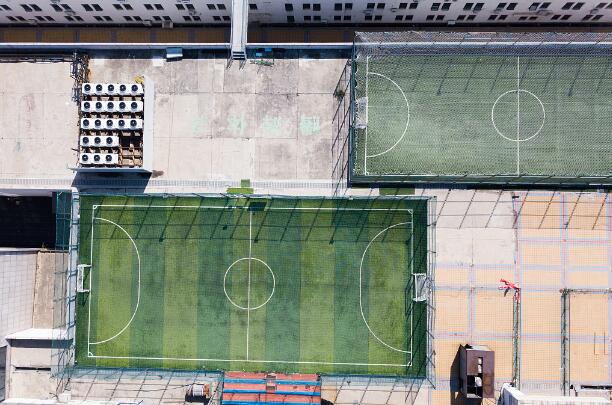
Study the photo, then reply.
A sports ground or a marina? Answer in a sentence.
The picture captures a sports ground.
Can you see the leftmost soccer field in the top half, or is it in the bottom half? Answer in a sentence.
The leftmost soccer field sits in the bottom half of the picture.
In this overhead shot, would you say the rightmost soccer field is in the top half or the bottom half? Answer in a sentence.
You can find the rightmost soccer field in the top half.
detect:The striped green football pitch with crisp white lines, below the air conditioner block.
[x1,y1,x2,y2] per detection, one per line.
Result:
[76,198,427,377]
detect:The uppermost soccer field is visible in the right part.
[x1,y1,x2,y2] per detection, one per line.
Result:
[353,54,612,181]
